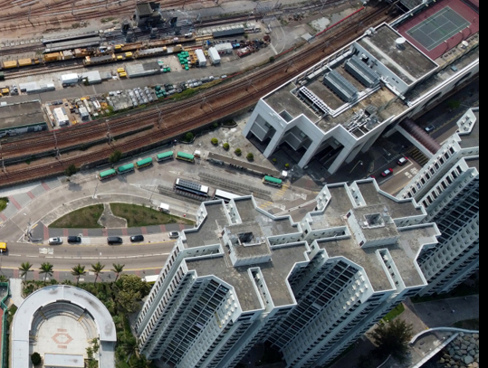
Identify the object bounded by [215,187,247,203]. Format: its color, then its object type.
white vehicle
